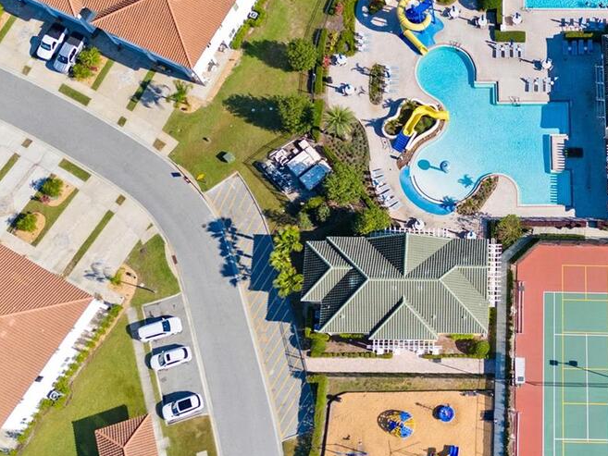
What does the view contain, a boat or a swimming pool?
swimming pool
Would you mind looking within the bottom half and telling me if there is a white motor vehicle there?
Yes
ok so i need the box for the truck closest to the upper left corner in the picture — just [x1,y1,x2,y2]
[37,22,67,61]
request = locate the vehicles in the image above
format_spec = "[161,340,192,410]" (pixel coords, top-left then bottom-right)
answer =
[161,395,203,420]
[54,36,85,74]
[37,22,67,61]
[138,316,182,341]
[149,345,192,369]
